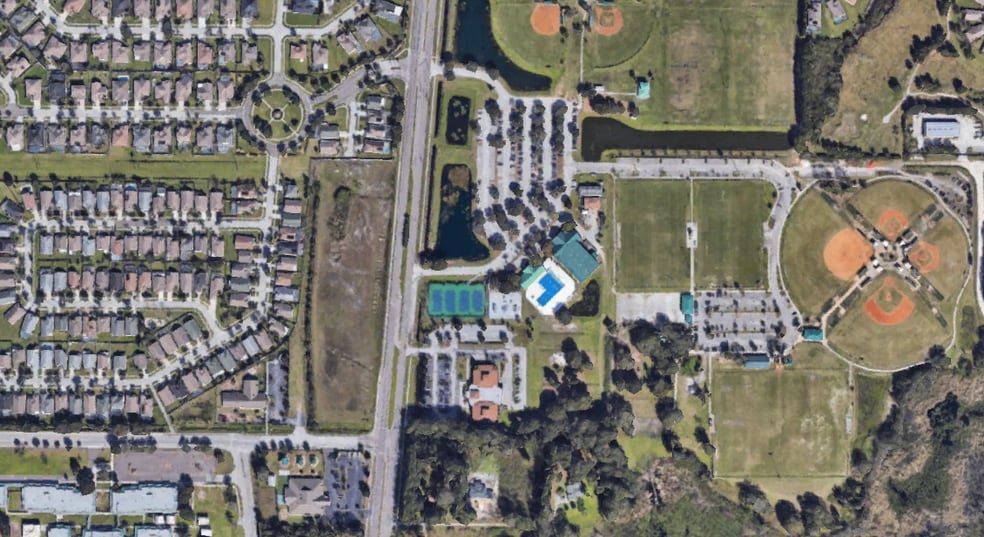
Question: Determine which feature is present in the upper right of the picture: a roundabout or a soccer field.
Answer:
soccer field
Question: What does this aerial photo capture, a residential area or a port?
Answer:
residential area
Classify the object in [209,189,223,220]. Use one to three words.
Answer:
house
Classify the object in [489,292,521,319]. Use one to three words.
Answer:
sports court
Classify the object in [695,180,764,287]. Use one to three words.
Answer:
soccer field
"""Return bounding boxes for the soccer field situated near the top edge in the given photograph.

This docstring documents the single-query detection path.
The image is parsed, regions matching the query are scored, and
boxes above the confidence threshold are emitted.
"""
[664,12,790,122]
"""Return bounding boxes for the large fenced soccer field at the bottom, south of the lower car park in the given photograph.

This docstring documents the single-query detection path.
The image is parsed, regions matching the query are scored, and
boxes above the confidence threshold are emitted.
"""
[714,368,848,476]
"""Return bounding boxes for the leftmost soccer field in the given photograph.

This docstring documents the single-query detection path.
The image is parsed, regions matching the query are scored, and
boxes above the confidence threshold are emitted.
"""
[617,180,690,289]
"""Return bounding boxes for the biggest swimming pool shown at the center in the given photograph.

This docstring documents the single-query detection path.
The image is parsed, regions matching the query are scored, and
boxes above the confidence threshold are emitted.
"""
[526,258,576,315]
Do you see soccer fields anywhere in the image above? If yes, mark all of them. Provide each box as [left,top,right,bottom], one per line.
[714,368,848,476]
[617,180,690,289]
[664,12,790,122]
[695,180,764,287]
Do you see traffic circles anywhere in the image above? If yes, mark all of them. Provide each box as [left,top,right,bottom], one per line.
[242,79,313,150]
